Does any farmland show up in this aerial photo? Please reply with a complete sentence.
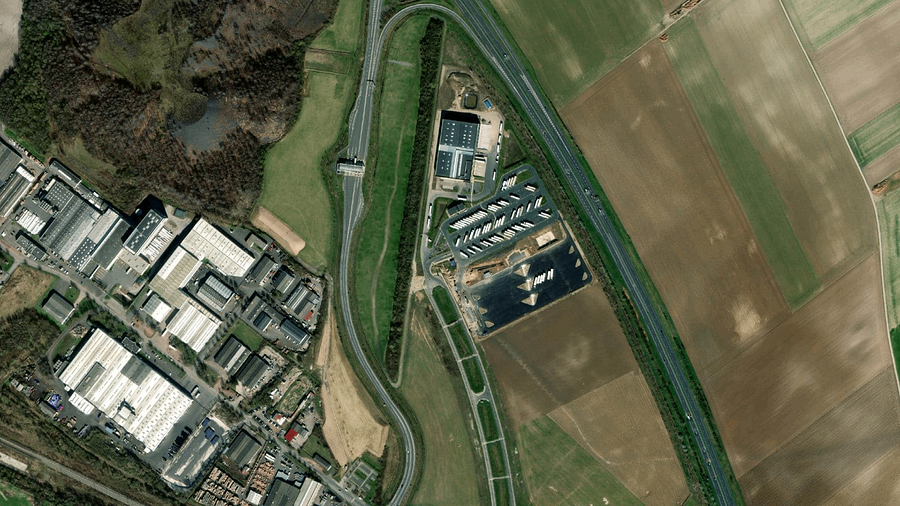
Yes, the picture does contain farmland.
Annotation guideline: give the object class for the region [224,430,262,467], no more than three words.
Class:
building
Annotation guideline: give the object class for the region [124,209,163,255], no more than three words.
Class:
building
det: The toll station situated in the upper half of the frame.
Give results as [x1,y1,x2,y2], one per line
[336,159,366,178]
